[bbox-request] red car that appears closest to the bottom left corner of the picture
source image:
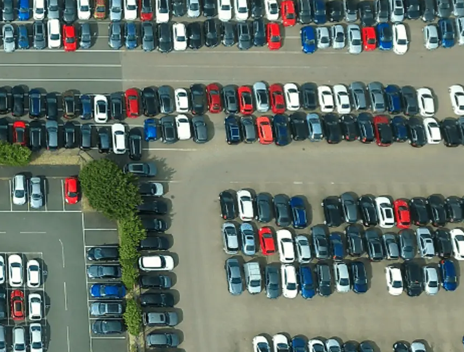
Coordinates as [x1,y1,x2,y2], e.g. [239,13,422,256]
[11,291,25,320]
